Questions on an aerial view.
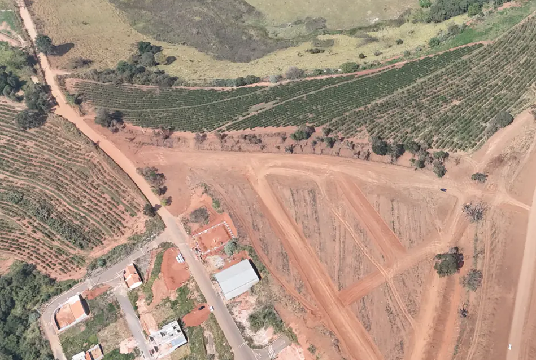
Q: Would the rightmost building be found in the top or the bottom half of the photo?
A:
bottom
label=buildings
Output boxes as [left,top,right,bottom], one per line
[69,348,106,360]
[217,260,261,298]
[120,264,146,293]
[55,294,90,332]
[149,321,190,360]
